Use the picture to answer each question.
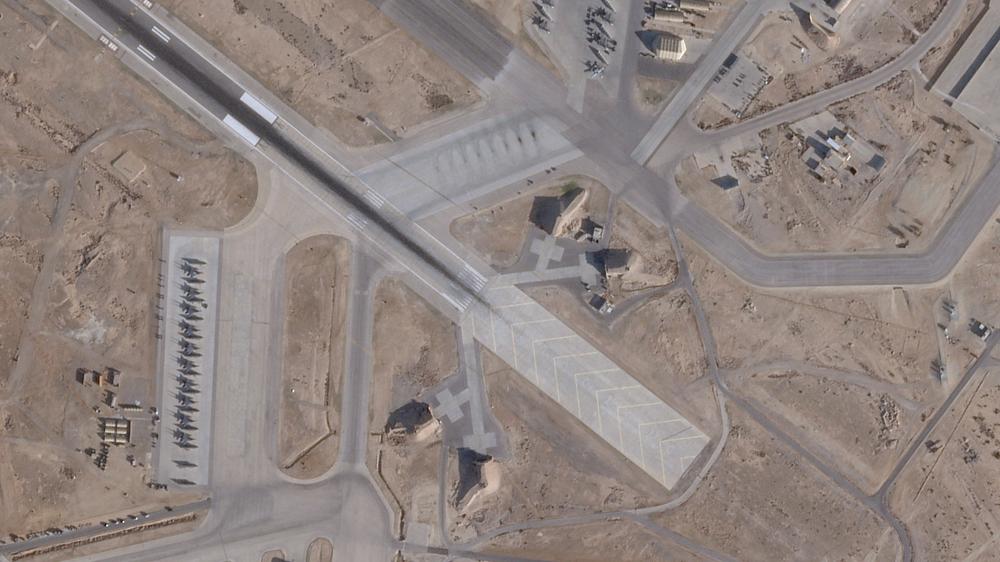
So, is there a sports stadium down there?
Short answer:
No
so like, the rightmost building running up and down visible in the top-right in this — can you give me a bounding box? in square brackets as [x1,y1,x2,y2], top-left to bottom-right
[958,39,1000,135]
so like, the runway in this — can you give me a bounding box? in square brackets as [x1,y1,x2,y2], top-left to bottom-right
[68,0,490,314]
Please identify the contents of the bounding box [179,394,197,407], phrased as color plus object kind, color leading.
gray airplane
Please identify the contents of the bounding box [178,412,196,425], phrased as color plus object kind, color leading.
gray airplane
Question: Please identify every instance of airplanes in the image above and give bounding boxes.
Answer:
[177,431,195,443]
[594,11,612,24]
[187,264,205,277]
[535,0,553,7]
[186,283,204,295]
[185,302,202,314]
[181,357,199,369]
[183,339,200,351]
[590,35,607,49]
[180,375,198,388]
[179,394,197,407]
[184,320,201,332]
[178,412,196,425]
[531,19,549,32]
